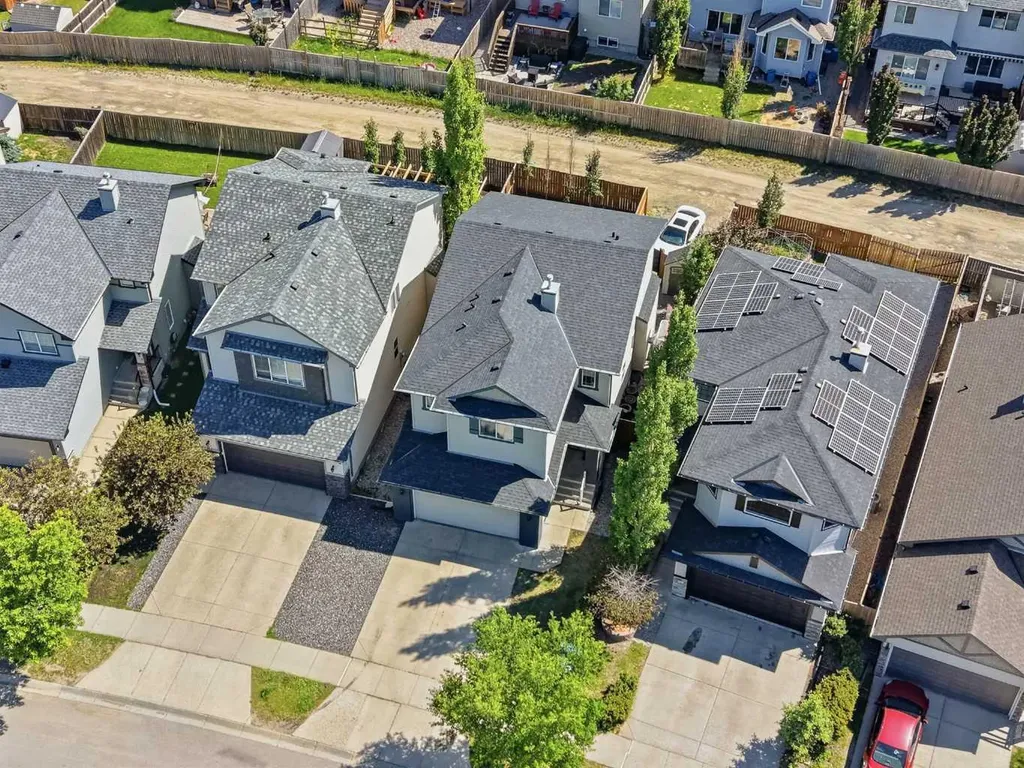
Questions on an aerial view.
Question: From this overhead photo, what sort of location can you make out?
residential area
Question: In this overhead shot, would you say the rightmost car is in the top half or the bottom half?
bottom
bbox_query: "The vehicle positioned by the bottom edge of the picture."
[862,675,930,768]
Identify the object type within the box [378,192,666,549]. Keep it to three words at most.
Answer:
house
